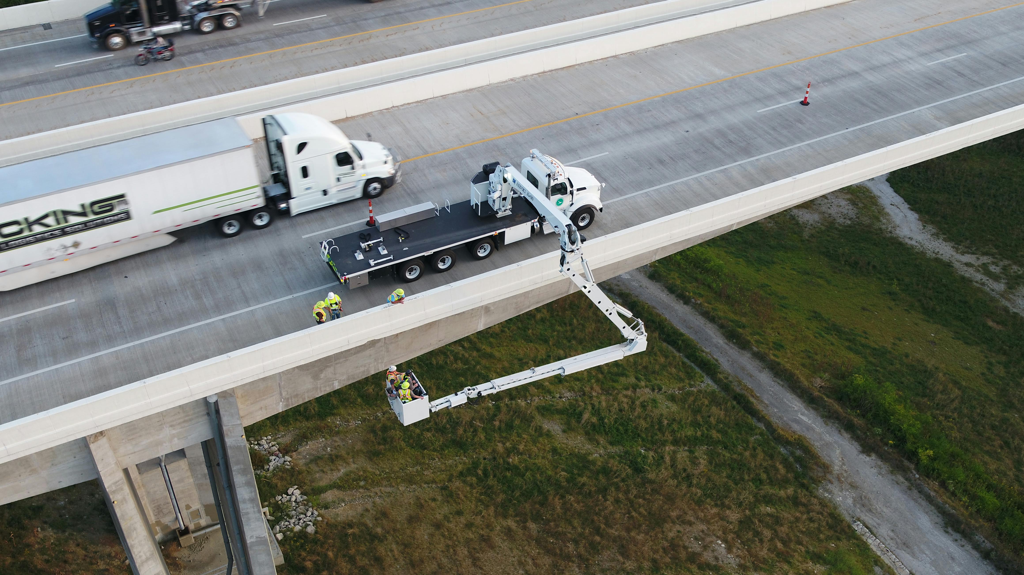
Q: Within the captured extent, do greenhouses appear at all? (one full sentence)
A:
No, the picture doesn't show any greenhouse.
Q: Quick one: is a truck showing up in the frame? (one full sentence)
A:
Yes, there is a truck in the image.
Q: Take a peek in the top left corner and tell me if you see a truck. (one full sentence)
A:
Yes, I can see a truck in the top left corner.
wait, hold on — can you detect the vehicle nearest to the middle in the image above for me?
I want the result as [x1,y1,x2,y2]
[315,148,647,426]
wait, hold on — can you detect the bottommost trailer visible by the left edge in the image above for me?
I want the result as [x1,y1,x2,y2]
[0,118,265,292]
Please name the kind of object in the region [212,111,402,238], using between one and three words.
truck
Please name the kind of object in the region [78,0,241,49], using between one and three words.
truck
